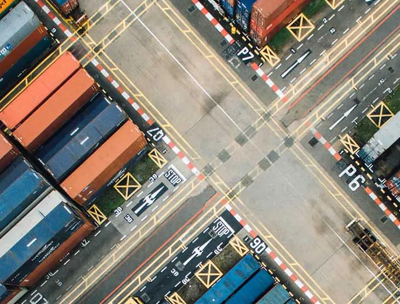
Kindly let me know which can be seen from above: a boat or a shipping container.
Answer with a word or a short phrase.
shipping container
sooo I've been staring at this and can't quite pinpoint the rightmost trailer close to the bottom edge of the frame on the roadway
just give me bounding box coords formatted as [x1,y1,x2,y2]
[343,216,400,293]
